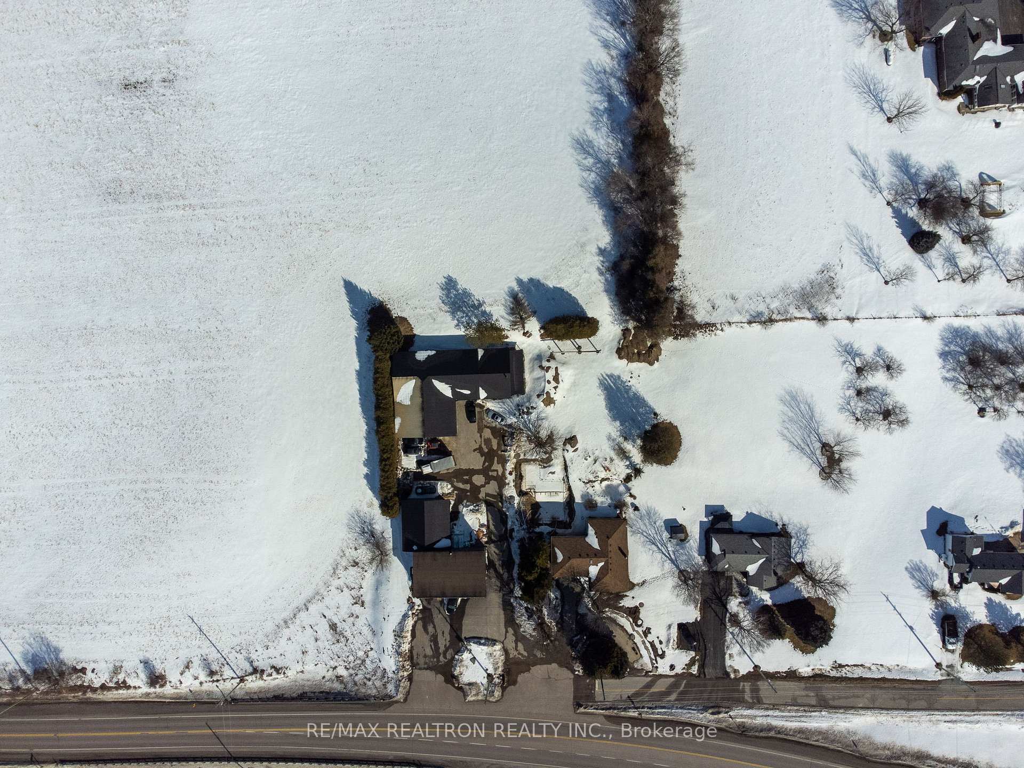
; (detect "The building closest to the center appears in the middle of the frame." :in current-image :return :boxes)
[392,348,525,438]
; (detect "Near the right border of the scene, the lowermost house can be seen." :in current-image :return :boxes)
[937,532,1024,594]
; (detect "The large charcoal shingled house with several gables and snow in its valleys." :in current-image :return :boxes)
[915,0,1024,111]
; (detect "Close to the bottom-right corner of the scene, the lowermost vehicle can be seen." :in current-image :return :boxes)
[944,617,961,650]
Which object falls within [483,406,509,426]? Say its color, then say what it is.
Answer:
gray car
